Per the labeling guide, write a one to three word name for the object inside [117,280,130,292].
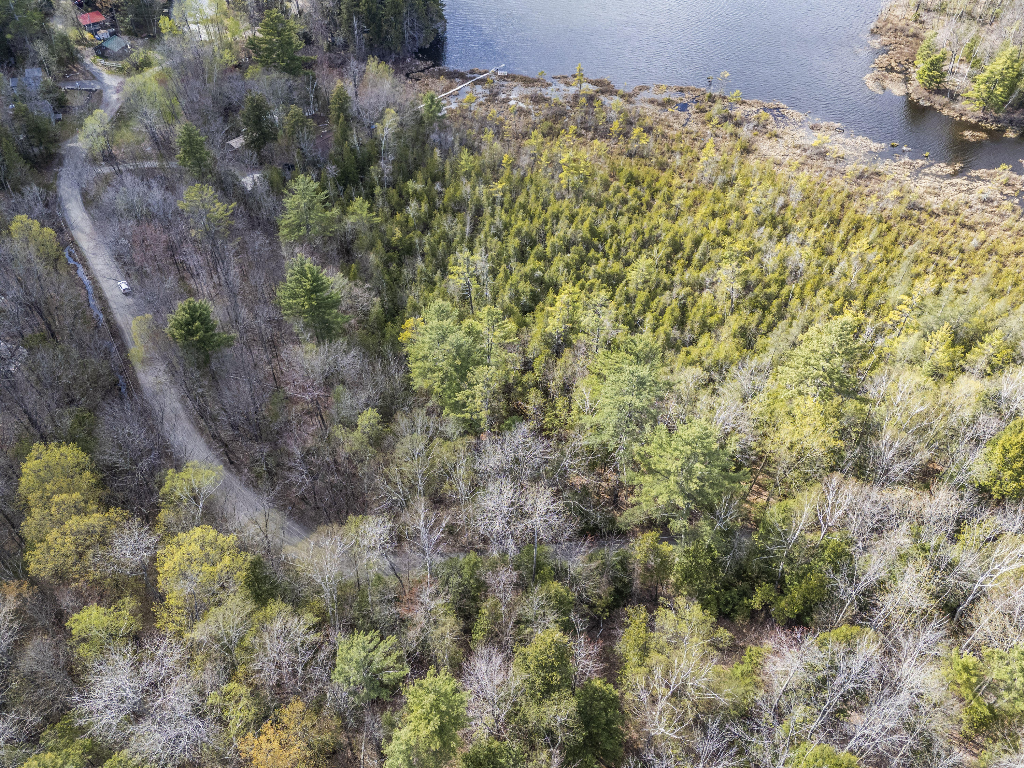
vehicle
